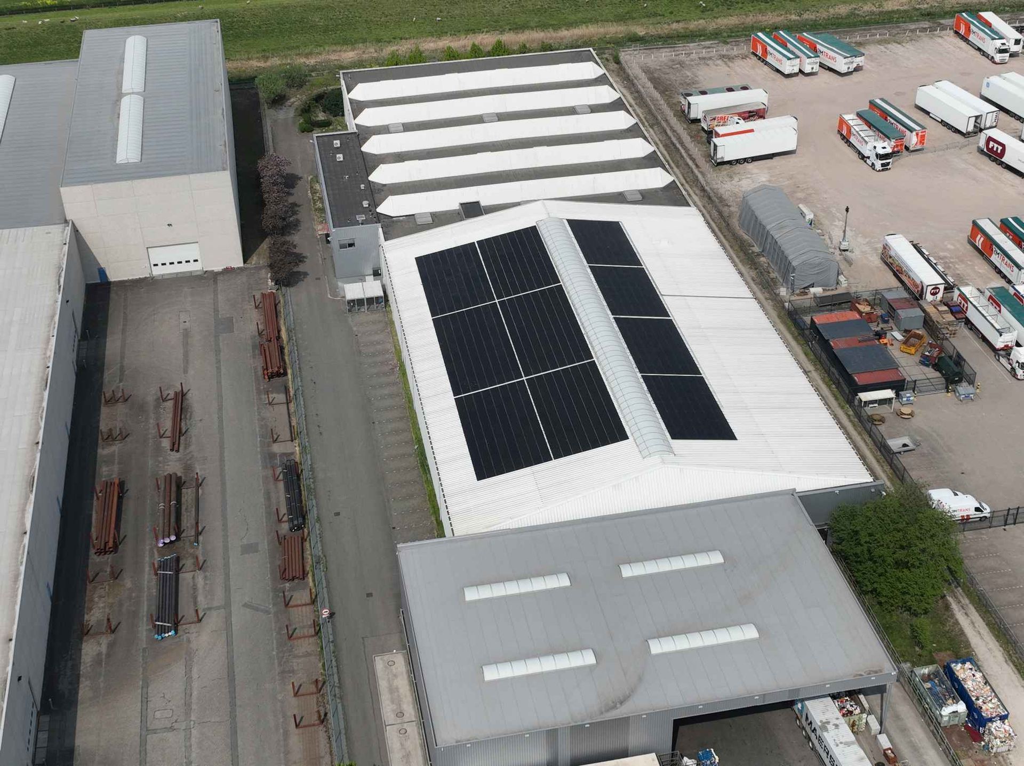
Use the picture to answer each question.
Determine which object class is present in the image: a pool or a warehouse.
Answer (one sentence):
I can see a warehouse in this picture.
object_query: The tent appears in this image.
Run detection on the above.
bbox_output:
[740,189,841,292]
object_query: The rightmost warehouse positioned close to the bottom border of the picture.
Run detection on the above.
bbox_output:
[396,487,898,766]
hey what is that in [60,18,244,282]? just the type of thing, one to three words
warehouse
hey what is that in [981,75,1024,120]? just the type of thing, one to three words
trailer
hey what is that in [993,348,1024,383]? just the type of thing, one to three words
truck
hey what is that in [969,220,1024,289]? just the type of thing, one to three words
trailer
